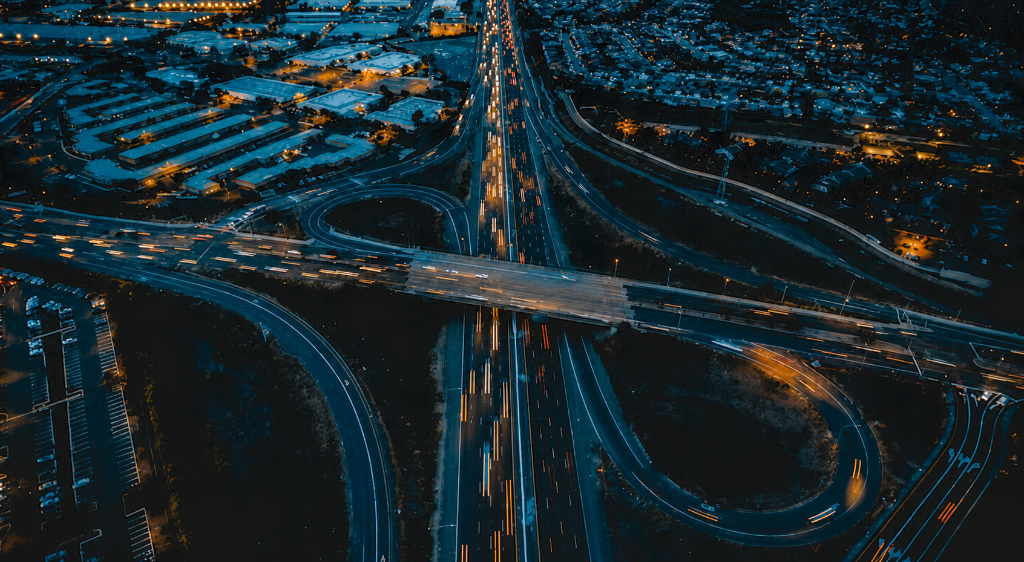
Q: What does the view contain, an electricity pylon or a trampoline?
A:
electricity pylon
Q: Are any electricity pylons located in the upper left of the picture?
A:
No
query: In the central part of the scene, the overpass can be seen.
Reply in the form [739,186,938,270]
[406,250,639,330]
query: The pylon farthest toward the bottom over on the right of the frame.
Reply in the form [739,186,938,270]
[714,151,738,203]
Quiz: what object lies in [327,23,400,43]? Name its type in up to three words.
building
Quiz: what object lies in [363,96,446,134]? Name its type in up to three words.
building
